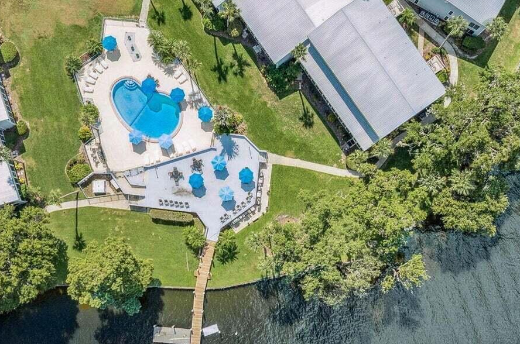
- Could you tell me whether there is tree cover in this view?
Yes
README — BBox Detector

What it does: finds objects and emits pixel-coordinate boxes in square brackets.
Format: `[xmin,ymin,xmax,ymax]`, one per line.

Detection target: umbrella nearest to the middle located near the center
[239,169,253,183]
